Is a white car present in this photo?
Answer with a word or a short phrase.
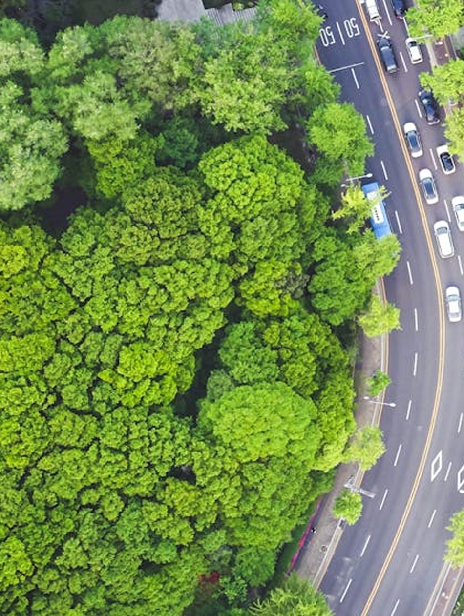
Yes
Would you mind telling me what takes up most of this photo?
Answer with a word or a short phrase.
trees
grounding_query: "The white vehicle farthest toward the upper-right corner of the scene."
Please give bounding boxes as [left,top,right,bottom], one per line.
[405,36,424,68]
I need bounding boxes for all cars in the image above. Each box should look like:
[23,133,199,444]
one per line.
[436,141,457,178]
[390,0,409,22]
[434,220,455,259]
[376,37,397,75]
[418,89,441,127]
[405,36,424,68]
[402,121,424,159]
[444,284,463,322]
[451,195,464,233]
[419,168,439,206]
